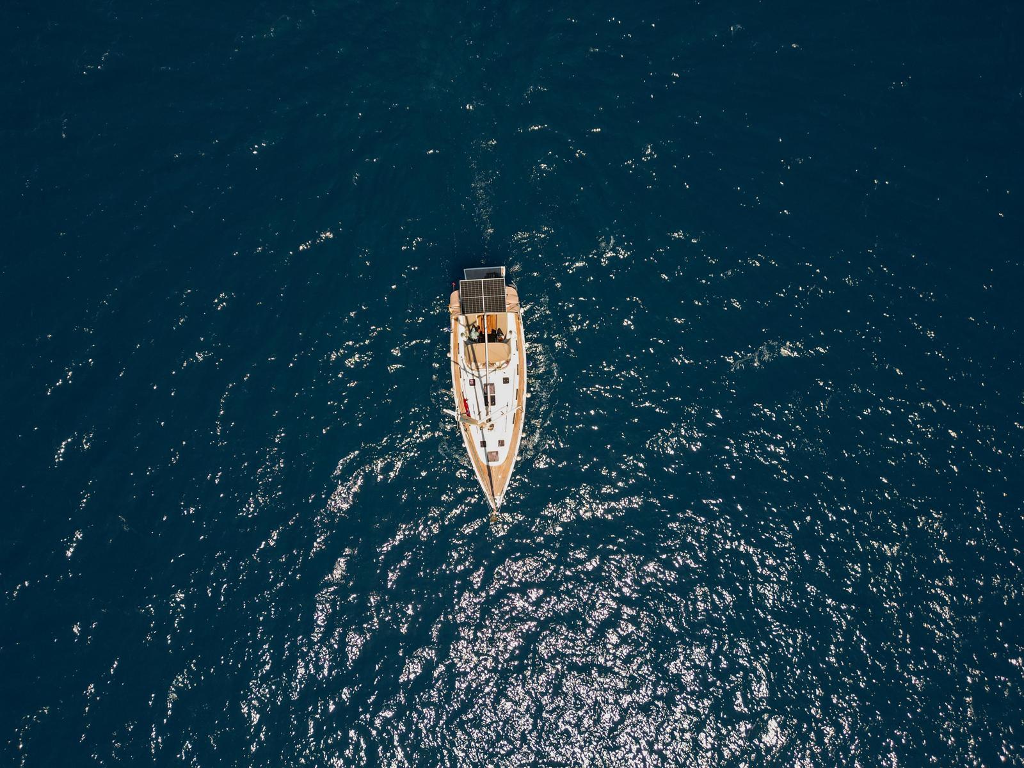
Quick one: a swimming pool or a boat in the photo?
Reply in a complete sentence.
Of the two, only a boat appears.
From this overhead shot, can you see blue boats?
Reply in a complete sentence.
No, there's no blue boat here.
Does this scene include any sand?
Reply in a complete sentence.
No, the picture contains no sand.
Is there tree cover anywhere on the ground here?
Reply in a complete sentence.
No, the scene doesn't show any tree cover.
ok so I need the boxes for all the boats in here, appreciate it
[442,267,527,514]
